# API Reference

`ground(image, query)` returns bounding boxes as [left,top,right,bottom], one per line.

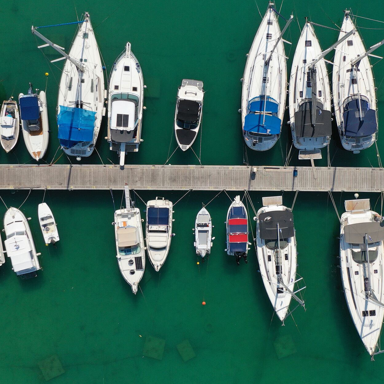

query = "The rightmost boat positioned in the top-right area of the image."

[331,8,384,154]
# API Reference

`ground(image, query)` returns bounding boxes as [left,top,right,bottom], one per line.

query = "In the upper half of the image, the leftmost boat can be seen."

[0,97,20,153]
